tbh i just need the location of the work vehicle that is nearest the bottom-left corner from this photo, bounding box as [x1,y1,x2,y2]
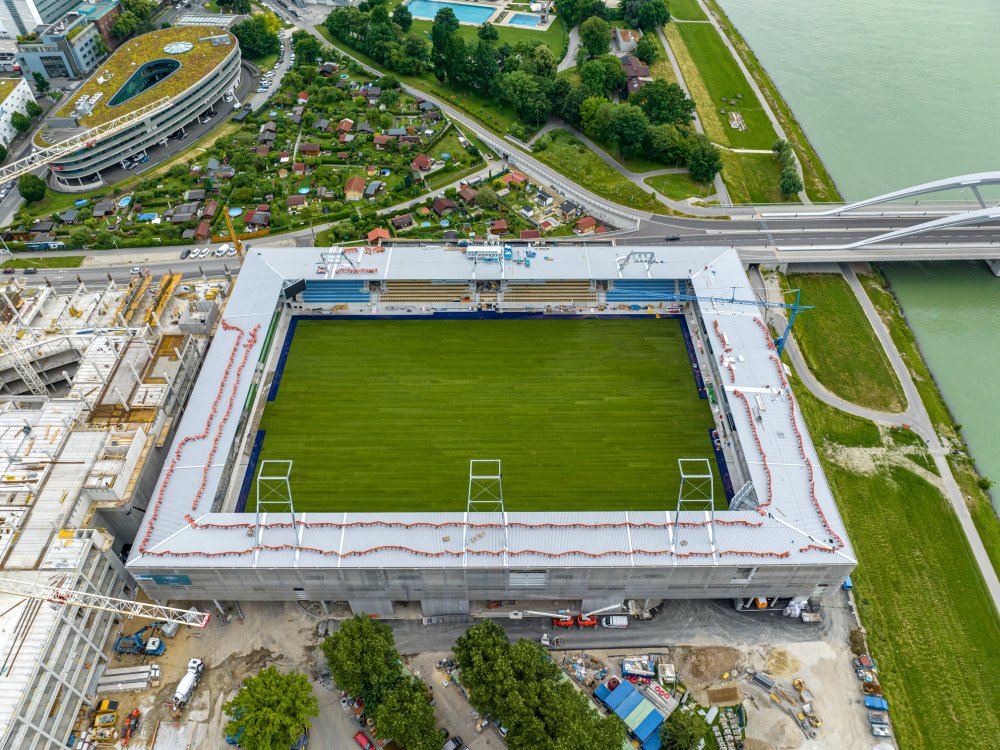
[113,699,152,740]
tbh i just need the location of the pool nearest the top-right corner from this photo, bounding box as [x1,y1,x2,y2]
[501,8,554,30]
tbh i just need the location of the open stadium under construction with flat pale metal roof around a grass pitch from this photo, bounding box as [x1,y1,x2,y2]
[124,246,857,622]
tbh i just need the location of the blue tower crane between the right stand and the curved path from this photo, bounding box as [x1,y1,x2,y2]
[605,267,845,358]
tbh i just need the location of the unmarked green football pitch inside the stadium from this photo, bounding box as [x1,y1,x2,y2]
[233,311,733,511]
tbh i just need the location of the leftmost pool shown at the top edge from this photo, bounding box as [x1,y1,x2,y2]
[403,0,514,27]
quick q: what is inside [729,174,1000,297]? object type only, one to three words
bridge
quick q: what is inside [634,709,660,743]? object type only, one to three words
building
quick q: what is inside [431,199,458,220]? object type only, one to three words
shed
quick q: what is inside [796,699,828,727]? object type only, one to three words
work vehicle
